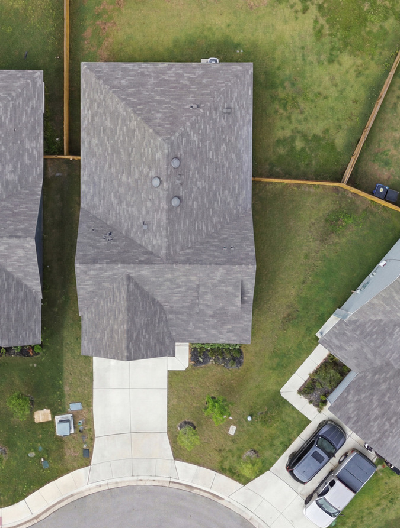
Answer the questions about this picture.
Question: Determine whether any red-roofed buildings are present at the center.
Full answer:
No, looking at the center, there is no red-roofed building.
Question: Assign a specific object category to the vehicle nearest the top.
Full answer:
It looks like the vehicle nearest the top is an automobile.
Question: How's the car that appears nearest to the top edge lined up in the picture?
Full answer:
I'd say the car that appears nearest to the top edge is aligned on a diagonal in the picture.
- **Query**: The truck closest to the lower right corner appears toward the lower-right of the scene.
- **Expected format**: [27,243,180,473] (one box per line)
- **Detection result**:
[302,449,374,528]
